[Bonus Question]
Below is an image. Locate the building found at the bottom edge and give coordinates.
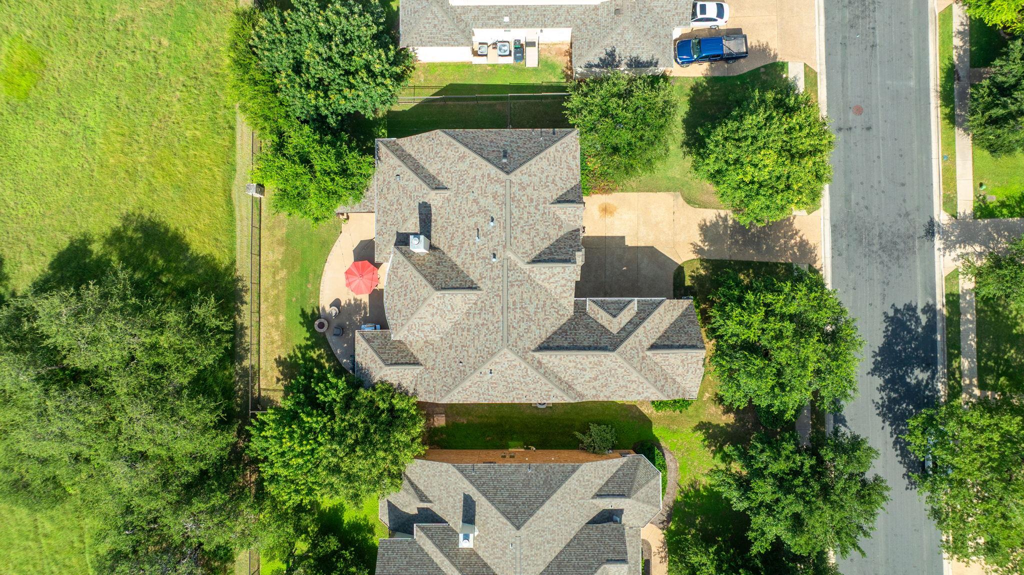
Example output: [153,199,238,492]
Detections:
[375,450,663,575]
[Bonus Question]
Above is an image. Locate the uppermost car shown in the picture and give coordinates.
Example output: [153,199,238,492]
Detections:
[690,1,730,31]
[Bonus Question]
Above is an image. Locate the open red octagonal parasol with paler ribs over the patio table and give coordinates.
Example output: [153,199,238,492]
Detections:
[346,260,380,294]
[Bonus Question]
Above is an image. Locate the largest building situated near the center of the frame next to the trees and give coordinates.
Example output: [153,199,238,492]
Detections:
[331,127,706,405]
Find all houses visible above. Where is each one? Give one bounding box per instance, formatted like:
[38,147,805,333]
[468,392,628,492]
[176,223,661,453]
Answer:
[375,450,663,575]
[399,0,690,80]
[331,127,706,405]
